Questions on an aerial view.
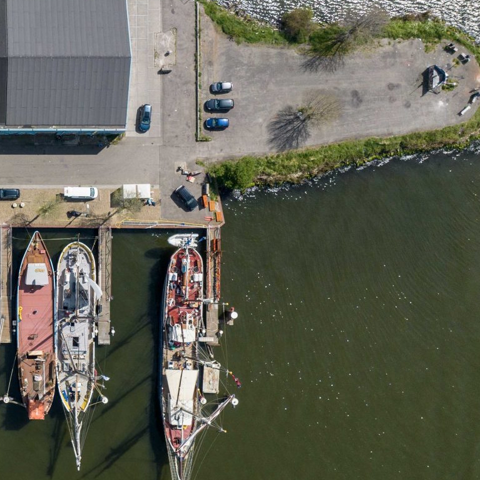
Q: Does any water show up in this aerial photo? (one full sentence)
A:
Yes, the picture does contain water.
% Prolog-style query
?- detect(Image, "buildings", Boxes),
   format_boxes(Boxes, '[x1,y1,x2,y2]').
[0,0,134,135]
[421,65,462,100]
